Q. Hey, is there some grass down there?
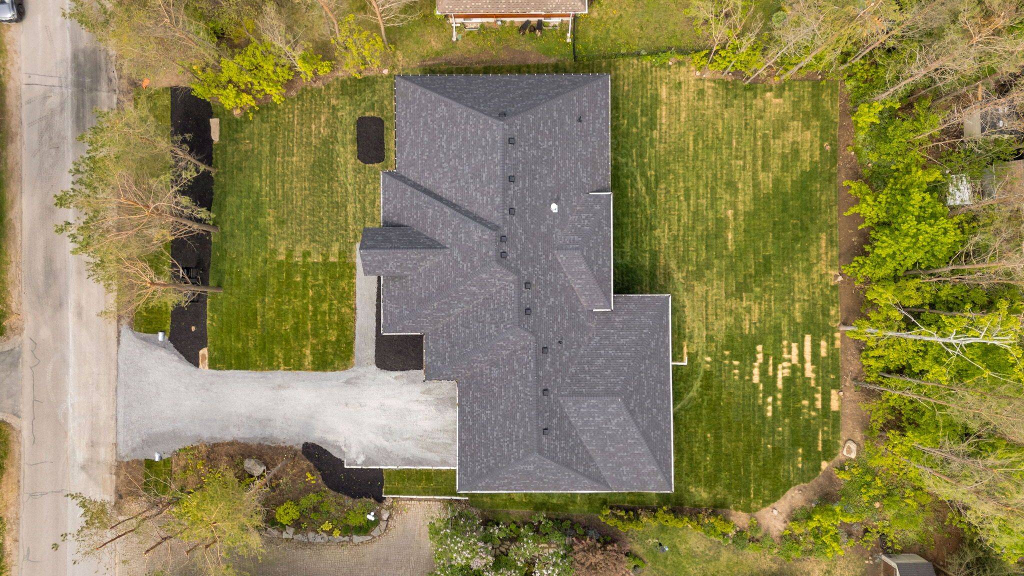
Yes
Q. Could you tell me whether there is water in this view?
No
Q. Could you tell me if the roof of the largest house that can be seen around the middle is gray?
Yes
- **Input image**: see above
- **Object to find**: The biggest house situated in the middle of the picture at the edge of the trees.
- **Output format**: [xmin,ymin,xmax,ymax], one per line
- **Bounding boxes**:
[359,73,673,494]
